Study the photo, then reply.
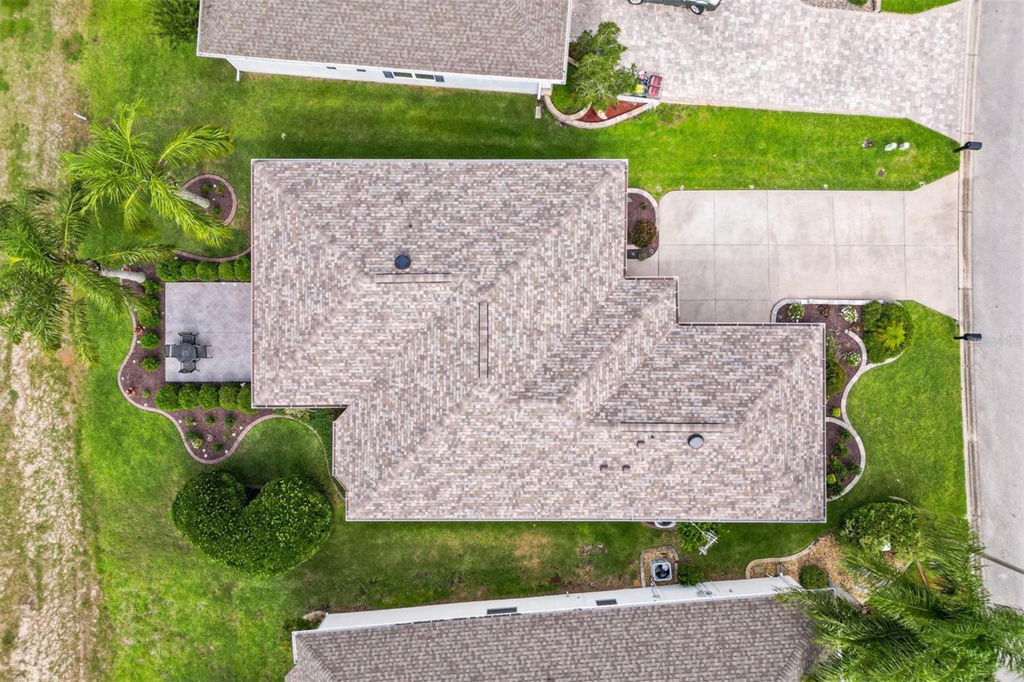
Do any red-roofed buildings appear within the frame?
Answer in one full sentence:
No, the photo shows no red-roofed building.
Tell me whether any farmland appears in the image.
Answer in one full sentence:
No, there's no farmland in this view.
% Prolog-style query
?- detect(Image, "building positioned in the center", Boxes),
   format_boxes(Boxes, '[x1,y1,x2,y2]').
[252,160,825,521]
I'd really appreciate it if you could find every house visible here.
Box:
[290,572,843,682]
[252,160,825,521]
[197,0,571,99]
